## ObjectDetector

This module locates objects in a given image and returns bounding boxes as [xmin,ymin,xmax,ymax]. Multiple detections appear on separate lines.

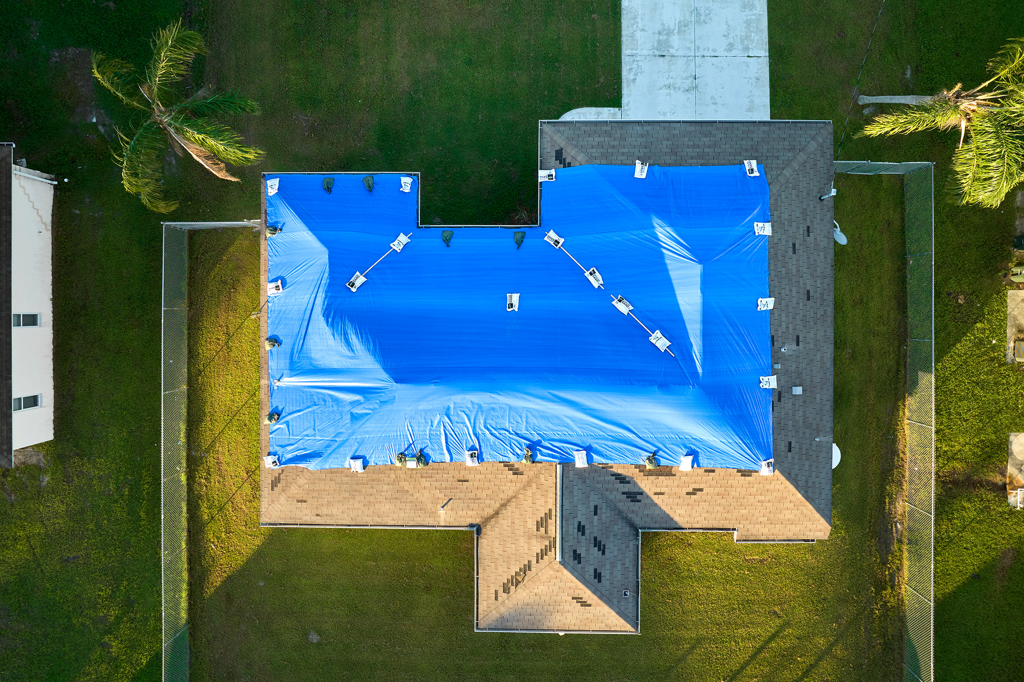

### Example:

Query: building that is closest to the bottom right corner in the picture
[258,119,832,637]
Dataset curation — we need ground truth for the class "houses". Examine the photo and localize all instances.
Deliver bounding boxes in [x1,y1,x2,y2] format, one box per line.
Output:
[0,139,60,469]
[258,119,832,637]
